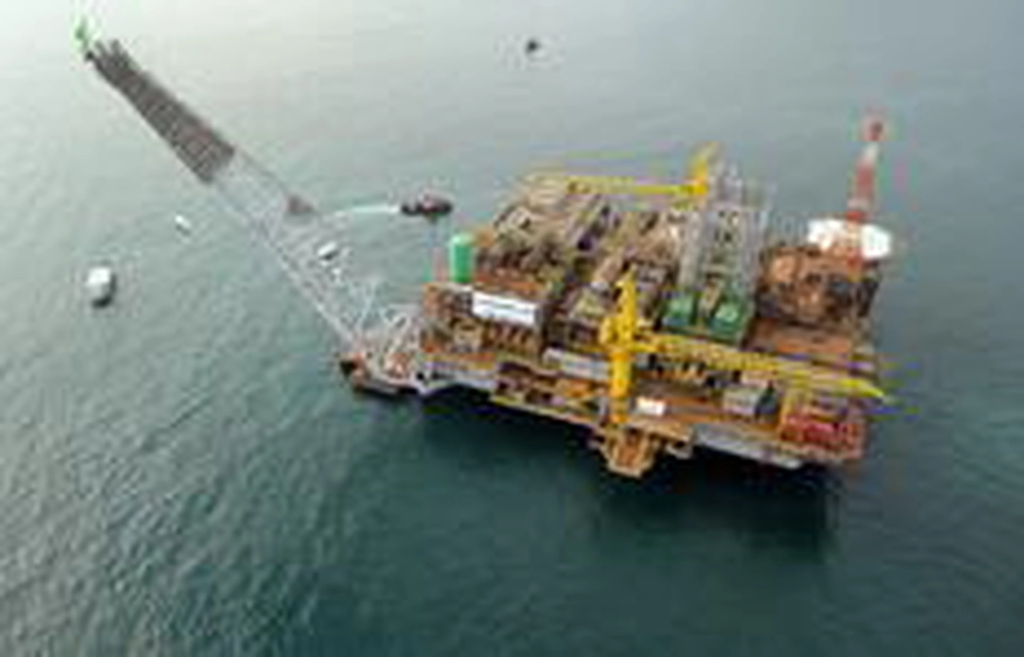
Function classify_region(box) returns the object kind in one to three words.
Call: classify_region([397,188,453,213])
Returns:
boat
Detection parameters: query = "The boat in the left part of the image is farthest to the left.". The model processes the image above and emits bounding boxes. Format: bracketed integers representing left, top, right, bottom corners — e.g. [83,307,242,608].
[84,265,124,298]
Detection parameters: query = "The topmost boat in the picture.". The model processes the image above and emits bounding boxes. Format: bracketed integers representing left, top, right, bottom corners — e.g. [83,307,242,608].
[522,35,543,47]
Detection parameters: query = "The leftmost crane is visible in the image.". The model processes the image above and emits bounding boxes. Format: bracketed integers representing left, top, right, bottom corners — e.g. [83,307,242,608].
[537,139,726,242]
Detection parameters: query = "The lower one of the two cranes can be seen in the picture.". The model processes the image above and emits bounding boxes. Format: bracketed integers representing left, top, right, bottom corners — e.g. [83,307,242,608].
[593,267,887,429]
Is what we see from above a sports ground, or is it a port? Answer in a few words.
port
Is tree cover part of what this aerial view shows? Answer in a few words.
No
